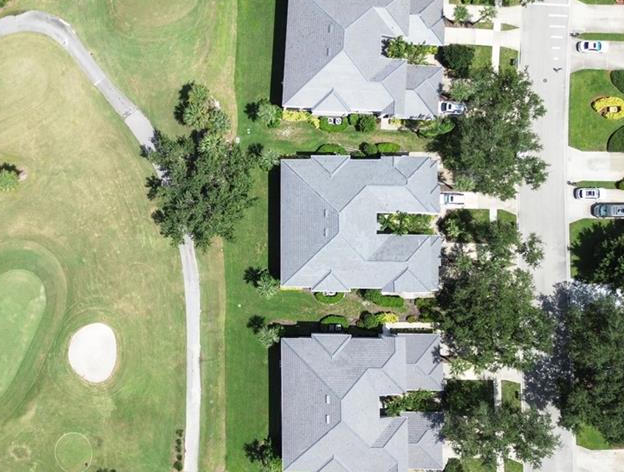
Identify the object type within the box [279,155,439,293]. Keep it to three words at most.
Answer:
house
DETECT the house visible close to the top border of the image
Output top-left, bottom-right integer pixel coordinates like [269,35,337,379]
[283,0,445,122]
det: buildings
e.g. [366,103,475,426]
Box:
[280,331,443,472]
[279,155,439,293]
[283,0,445,122]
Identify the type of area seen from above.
golf course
